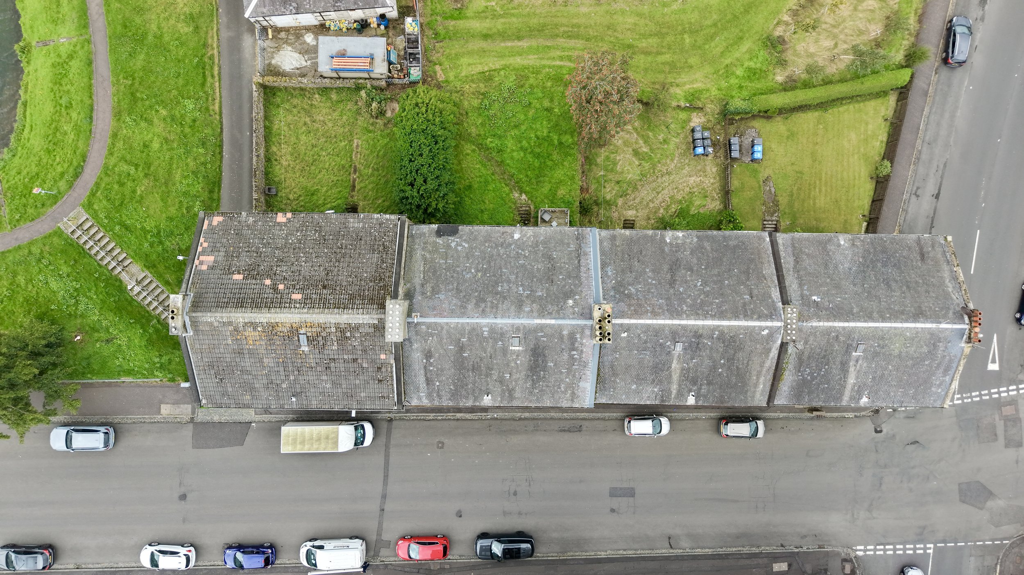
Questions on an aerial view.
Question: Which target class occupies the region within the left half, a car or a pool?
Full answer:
What appears within the left half is a car.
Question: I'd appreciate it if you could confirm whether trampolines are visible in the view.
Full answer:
No, no trampoline can be seen from above.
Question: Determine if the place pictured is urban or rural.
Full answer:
It looks urban.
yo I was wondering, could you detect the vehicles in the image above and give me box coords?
[301,535,367,574]
[718,416,765,443]
[475,532,535,570]
[943,12,984,68]
[282,418,374,453]
[51,424,118,455]
[396,535,450,567]
[624,414,670,441]
[141,543,198,575]
[224,543,278,575]
[0,544,59,575]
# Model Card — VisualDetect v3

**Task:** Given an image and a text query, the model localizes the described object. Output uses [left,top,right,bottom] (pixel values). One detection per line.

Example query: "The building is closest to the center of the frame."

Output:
[396,222,611,410]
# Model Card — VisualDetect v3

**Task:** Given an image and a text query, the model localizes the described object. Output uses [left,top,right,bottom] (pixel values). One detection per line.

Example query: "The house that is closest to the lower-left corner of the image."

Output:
[172,210,413,411]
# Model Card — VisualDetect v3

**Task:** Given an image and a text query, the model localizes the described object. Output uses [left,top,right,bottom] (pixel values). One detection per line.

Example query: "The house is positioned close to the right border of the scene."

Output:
[771,231,986,410]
